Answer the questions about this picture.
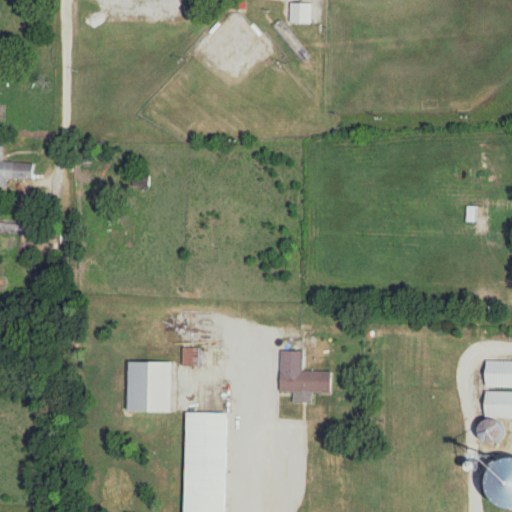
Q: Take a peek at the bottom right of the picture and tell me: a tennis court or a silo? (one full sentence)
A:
The feature located at the bottom right of the picture is a silo.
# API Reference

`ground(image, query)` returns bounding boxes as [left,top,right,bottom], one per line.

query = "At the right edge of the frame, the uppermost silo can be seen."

[476,418,505,444]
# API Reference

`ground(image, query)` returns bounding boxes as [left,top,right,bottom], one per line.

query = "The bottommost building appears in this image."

[186,412,228,512]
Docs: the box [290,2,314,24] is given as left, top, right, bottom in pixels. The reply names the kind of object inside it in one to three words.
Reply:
shed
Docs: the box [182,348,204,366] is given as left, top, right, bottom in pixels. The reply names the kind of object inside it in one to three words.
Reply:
shed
